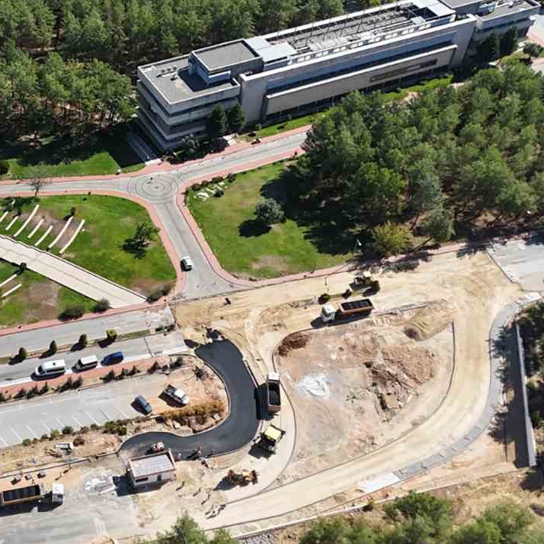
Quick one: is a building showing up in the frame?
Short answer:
Yes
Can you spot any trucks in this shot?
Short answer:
Yes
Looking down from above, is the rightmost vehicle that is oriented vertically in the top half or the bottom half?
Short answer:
bottom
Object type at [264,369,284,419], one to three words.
vehicle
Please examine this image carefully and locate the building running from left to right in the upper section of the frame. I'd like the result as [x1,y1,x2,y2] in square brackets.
[120,0,539,159]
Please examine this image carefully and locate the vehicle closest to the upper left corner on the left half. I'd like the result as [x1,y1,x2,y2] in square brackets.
[180,256,193,272]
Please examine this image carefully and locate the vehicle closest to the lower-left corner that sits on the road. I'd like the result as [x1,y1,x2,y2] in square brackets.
[0,479,66,514]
